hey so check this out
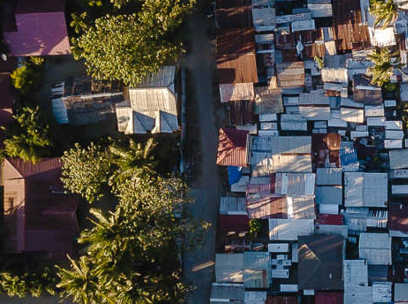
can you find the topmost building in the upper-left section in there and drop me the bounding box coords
[5,0,80,59]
